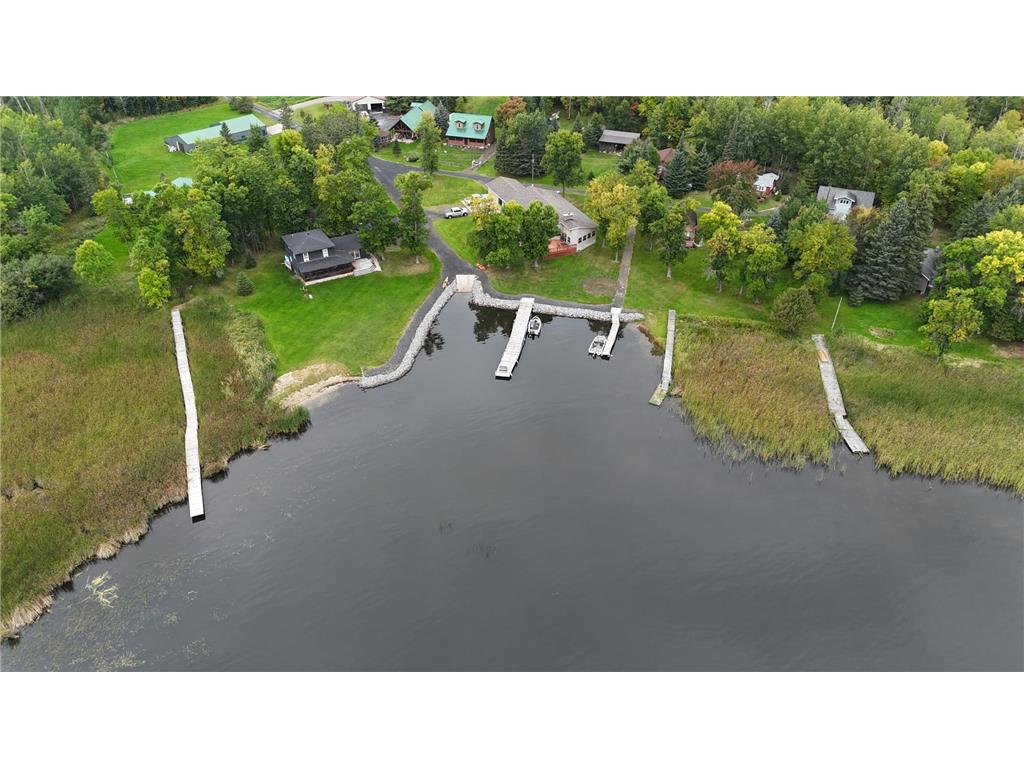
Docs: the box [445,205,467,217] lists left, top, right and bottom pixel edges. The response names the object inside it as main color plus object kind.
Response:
white vehicle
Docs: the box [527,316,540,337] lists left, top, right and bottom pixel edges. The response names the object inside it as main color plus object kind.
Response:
white boat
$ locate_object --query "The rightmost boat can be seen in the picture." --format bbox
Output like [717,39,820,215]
[588,335,603,357]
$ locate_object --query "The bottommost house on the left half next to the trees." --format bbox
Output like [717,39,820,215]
[284,230,372,285]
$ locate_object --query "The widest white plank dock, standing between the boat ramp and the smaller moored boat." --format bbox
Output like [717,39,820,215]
[496,297,535,380]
